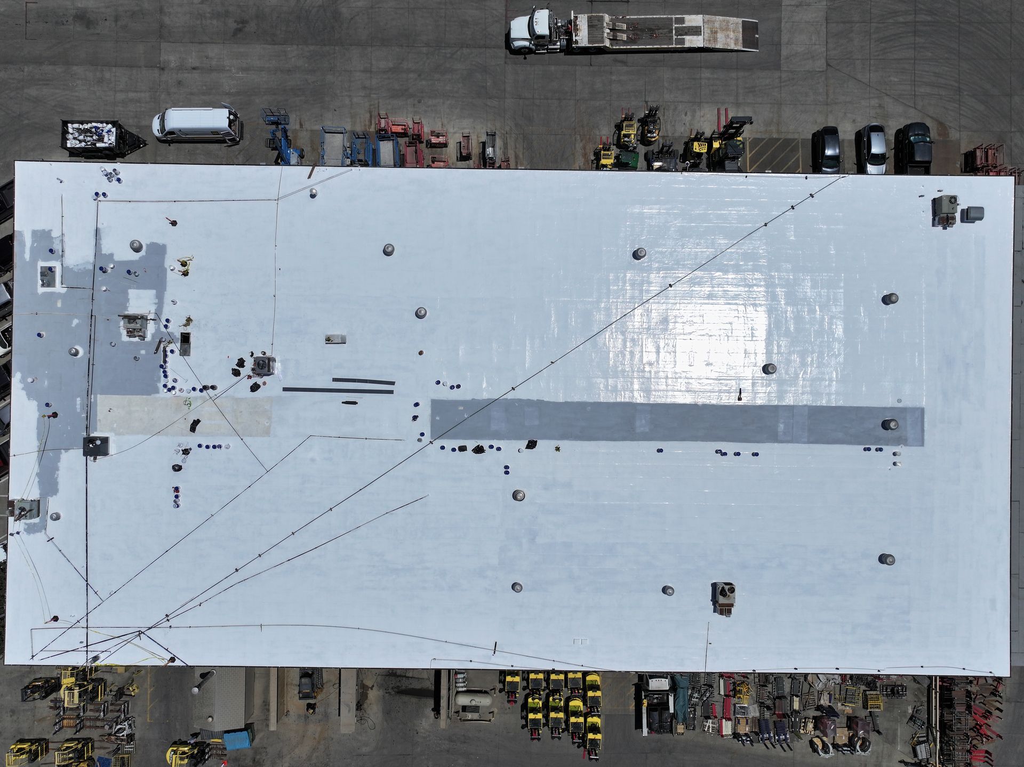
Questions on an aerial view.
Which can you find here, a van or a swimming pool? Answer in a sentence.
It is a van that can be seen here.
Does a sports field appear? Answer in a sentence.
No, no sports field can be seen from above.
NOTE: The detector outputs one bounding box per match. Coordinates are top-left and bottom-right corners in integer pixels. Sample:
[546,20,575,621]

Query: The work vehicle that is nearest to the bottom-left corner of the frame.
[2,732,57,767]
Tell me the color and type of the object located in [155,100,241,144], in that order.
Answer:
white van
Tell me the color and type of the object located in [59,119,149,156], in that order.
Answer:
black trailer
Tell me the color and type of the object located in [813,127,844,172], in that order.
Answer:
black car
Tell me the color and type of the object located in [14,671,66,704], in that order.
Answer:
black work vehicle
